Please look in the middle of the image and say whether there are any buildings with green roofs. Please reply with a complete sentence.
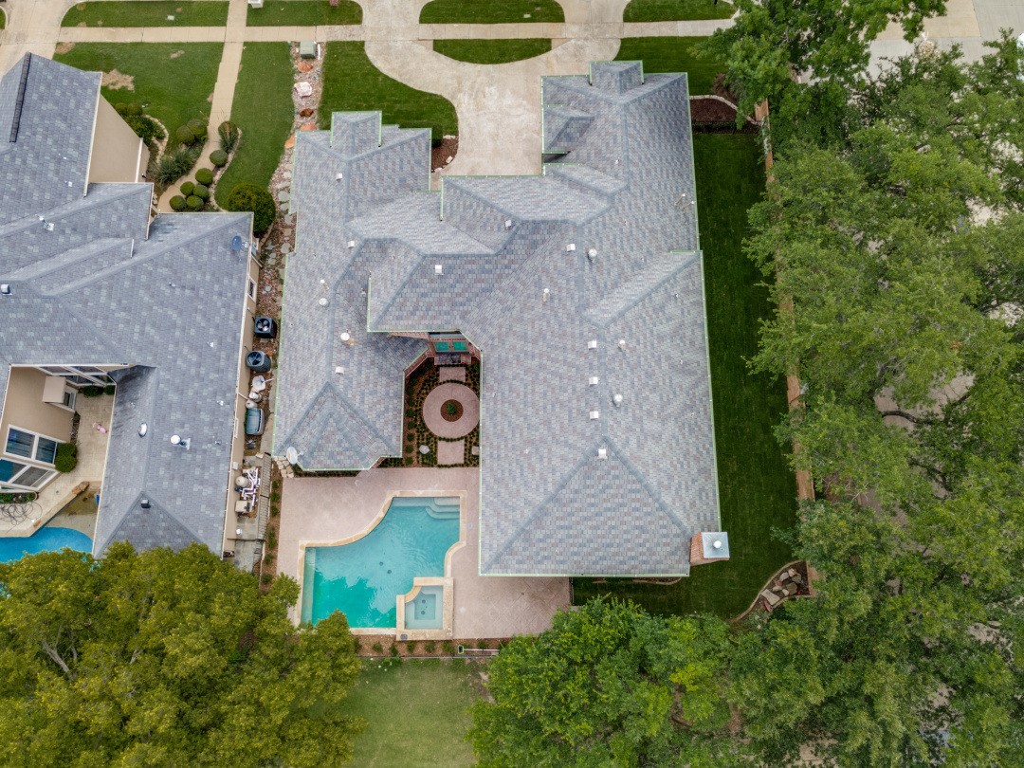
No, in the middle of the image there is no building with a green roof.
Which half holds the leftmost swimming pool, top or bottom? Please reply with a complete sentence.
You can find the leftmost swimming pool in the bottom half.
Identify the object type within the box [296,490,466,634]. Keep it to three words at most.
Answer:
swimming pool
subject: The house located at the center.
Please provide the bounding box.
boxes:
[270,60,729,577]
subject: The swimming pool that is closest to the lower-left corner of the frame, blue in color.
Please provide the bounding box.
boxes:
[0,526,91,594]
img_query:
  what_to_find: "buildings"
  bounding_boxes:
[0,52,264,569]
[270,60,729,577]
